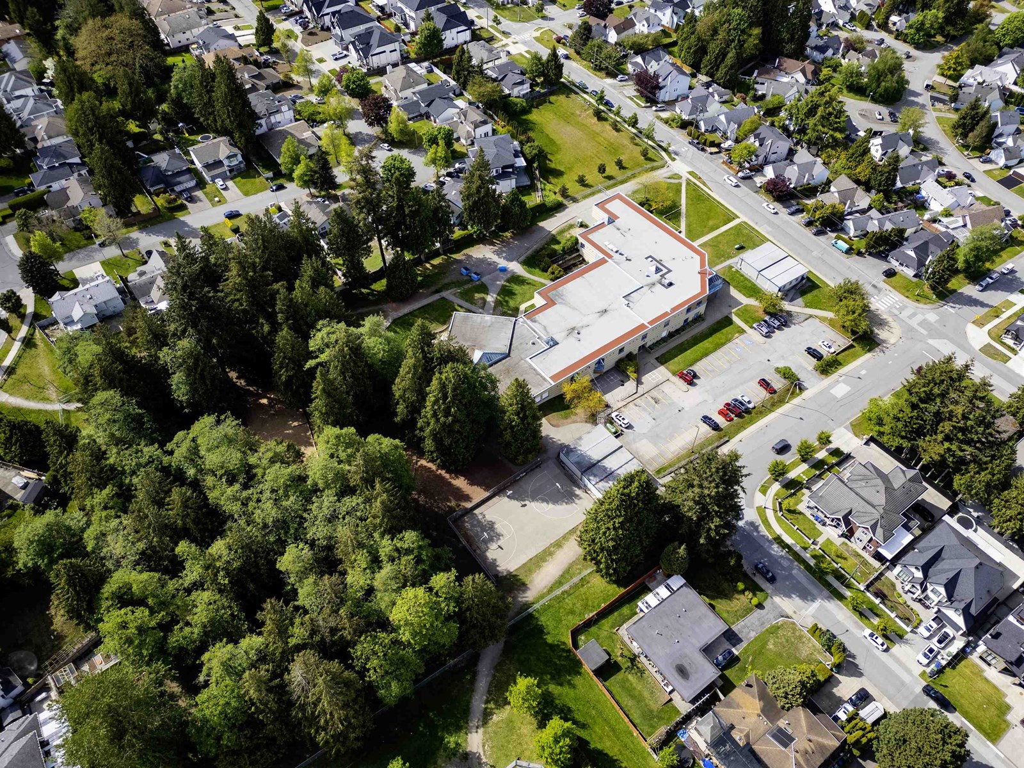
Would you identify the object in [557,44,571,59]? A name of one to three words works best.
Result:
vehicle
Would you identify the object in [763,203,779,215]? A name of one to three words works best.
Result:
vehicle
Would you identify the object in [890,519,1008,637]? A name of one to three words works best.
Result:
house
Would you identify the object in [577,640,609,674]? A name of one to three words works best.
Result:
shed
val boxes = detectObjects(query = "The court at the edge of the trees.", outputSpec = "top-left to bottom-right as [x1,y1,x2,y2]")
[449,457,597,579]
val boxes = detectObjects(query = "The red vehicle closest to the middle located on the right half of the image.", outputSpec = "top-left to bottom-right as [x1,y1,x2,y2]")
[676,370,696,386]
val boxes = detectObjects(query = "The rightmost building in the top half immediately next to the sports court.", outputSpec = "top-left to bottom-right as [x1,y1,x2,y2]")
[516,192,723,404]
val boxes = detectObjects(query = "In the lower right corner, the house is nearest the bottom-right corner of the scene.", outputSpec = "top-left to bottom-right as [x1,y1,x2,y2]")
[970,597,1024,683]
